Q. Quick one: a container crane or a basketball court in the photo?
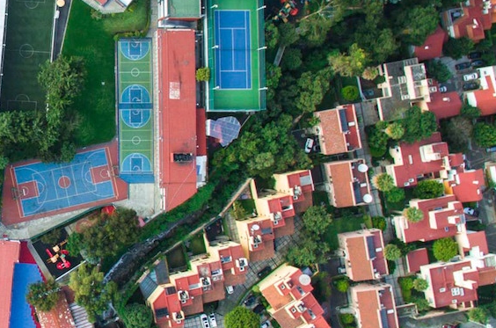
basketball court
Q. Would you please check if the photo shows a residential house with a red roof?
Yes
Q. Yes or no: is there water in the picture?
No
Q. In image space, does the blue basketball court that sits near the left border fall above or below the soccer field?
below it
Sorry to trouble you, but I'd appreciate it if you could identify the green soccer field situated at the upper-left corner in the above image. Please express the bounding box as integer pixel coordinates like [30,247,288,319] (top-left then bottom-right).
[0,0,57,112]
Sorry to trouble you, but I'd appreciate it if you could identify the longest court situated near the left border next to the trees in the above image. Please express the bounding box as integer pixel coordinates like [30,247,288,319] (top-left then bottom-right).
[1,139,130,228]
